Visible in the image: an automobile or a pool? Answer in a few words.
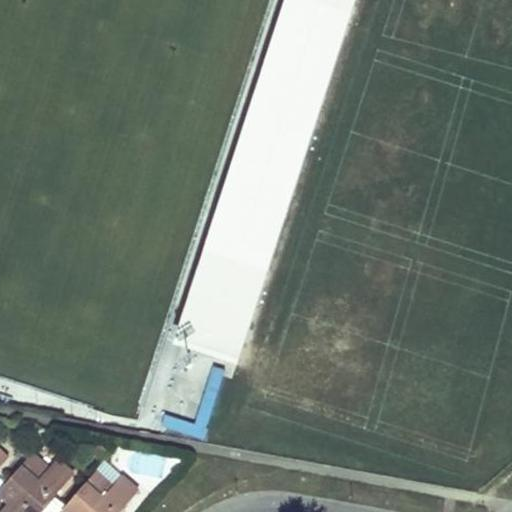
pool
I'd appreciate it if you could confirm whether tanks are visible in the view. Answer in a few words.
No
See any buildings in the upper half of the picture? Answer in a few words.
No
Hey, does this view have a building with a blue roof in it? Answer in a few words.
Yes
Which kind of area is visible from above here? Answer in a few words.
sports ground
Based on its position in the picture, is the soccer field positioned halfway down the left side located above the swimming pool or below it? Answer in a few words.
above it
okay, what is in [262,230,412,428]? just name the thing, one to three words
sports field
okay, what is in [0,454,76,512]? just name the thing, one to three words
house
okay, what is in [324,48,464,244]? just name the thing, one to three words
sports field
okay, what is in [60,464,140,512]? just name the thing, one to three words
house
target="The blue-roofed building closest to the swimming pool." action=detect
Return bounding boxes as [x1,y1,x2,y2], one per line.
[162,366,224,442]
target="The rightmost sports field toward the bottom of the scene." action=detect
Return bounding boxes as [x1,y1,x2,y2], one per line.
[375,262,512,461]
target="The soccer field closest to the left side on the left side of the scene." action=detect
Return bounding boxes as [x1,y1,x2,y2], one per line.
[0,0,272,416]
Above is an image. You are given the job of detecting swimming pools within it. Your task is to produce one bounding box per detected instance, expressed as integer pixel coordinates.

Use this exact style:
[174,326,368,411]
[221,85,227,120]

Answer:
[128,452,166,478]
